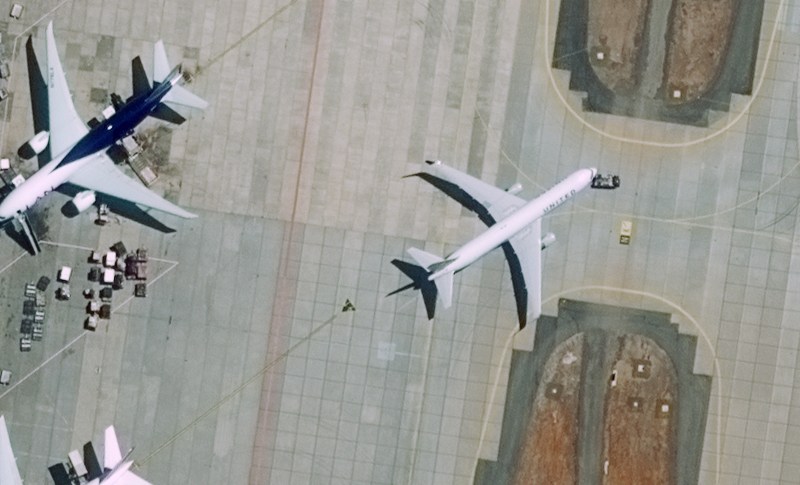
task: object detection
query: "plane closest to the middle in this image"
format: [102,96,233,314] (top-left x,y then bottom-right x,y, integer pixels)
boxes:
[407,162,598,324]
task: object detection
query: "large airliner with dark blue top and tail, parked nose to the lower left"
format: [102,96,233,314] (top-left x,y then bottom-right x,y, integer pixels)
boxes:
[0,20,212,219]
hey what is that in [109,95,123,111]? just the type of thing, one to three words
work vehicle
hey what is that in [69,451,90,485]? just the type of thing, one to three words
truck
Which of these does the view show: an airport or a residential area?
airport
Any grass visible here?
No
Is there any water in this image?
No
